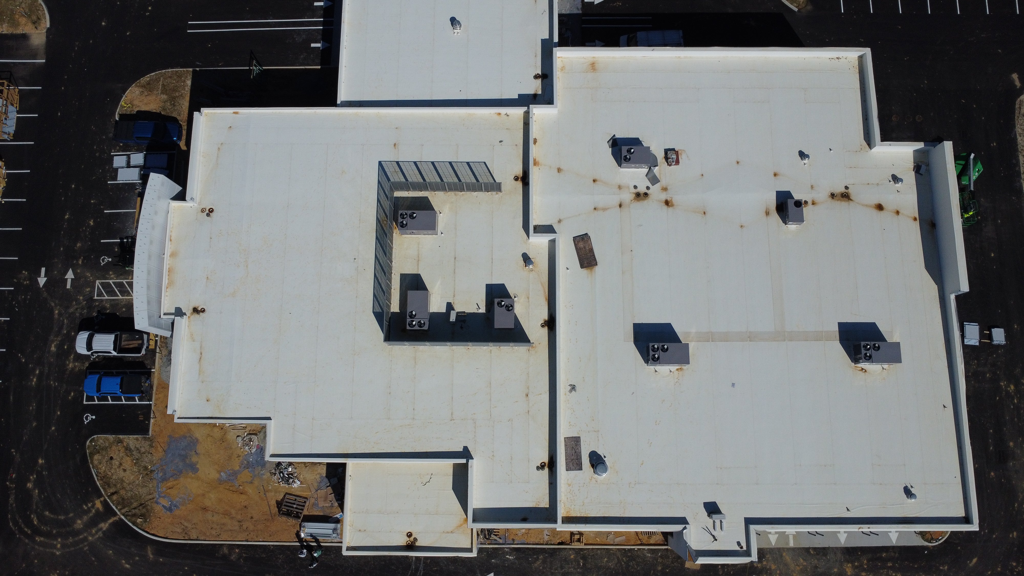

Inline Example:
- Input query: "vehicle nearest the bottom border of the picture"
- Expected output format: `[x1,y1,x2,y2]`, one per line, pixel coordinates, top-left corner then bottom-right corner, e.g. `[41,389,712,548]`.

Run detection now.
[81,371,153,400]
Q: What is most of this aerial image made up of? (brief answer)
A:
buildings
